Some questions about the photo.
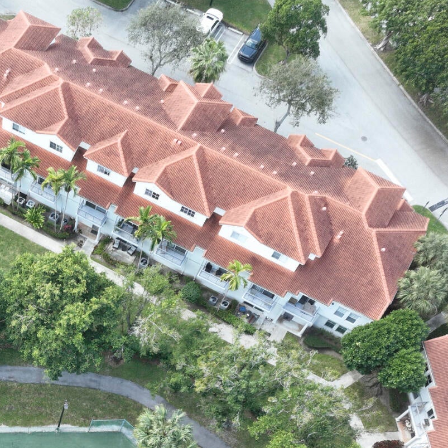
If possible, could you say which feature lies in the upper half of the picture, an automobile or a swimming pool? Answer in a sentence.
Looking in the upper half of the picture, you will find an automobile.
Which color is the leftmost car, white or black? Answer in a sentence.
From above, the leftmost car appears white.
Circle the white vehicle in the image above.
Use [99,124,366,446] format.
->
[198,4,224,36]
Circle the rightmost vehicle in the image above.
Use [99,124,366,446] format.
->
[241,24,268,60]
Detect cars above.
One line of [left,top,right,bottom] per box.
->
[241,24,268,60]
[198,4,224,36]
